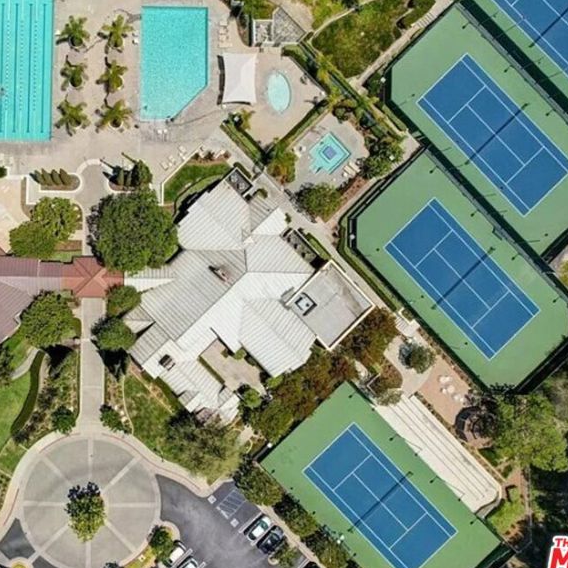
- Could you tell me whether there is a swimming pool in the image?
Yes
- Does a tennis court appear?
Yes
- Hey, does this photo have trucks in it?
No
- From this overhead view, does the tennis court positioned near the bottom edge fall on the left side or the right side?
right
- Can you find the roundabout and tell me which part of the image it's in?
bottom left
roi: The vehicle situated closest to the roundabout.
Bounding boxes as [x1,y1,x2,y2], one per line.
[162,540,189,568]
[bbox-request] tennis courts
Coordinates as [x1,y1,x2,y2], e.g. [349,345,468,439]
[364,151,568,391]
[389,5,568,250]
[473,0,568,102]
[267,388,501,568]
